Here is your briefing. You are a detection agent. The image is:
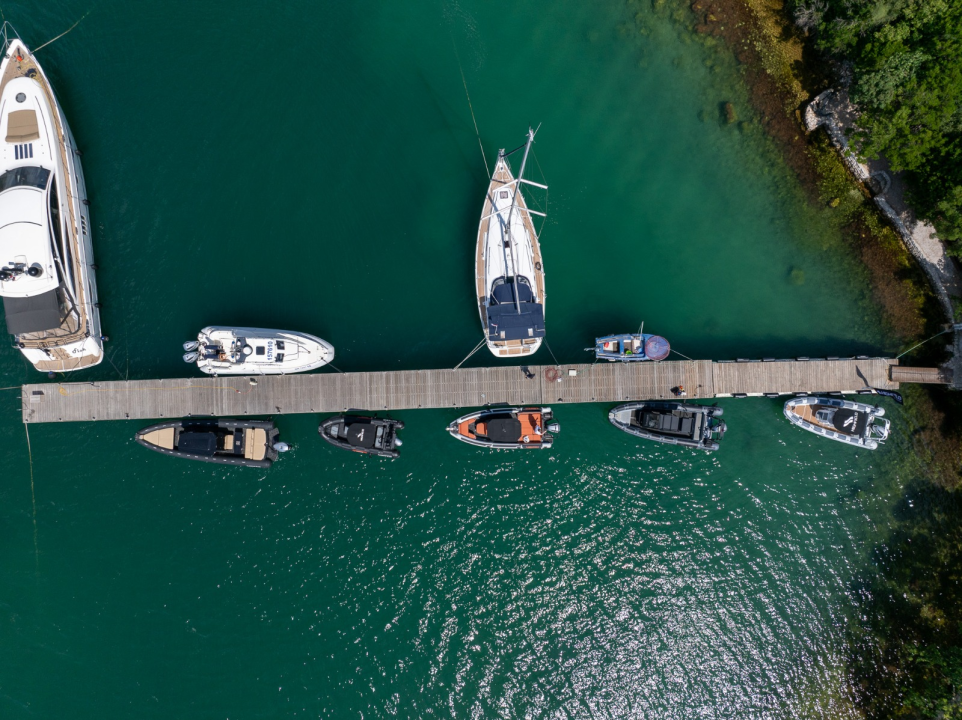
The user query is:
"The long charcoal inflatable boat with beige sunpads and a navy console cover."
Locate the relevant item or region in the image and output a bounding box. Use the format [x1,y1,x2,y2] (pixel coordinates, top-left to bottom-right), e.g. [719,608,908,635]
[135,420,288,465]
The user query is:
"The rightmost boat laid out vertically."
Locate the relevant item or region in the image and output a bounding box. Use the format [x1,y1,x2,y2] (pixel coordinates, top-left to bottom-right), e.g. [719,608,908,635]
[474,129,548,357]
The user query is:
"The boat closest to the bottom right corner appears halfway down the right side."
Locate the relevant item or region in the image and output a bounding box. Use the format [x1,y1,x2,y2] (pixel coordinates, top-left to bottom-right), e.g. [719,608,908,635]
[784,399,891,449]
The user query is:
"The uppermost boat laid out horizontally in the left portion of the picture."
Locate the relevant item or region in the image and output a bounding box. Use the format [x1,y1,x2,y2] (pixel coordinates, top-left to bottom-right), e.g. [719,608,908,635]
[182,327,333,378]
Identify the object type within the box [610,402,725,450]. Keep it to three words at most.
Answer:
boat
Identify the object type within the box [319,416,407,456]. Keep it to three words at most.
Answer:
boat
